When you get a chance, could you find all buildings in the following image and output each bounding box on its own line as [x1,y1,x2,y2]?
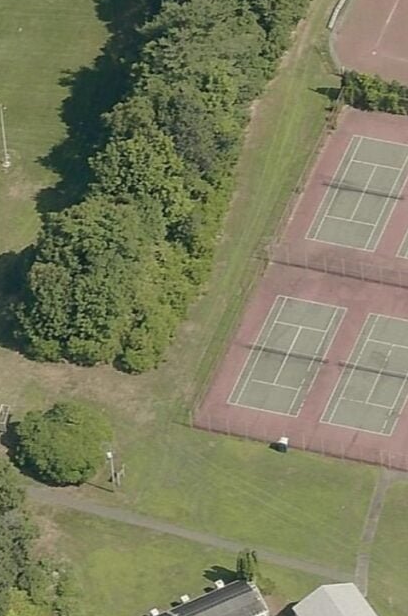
[160,579,265,616]
[292,582,377,616]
